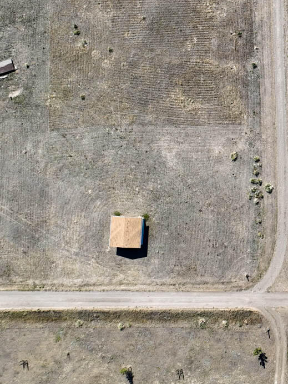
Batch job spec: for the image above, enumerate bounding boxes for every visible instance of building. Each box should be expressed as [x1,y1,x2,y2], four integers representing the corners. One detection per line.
[110,215,148,248]
[0,55,15,77]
